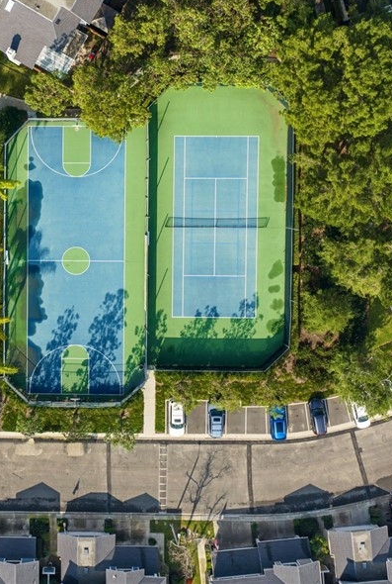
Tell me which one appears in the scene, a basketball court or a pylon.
basketball court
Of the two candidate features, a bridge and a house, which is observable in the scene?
house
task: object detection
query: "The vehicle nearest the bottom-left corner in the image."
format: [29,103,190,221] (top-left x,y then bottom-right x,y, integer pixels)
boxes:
[169,401,186,436]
